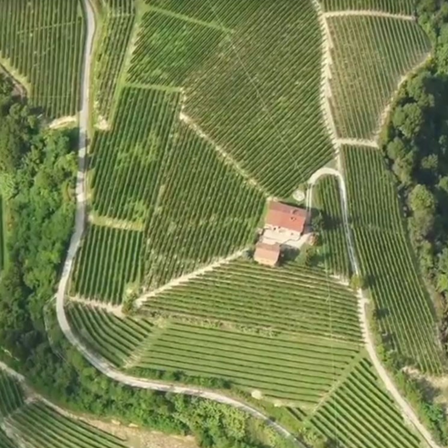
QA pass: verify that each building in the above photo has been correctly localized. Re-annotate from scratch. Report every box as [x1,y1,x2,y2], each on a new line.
[262,203,307,239]
[255,242,281,267]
